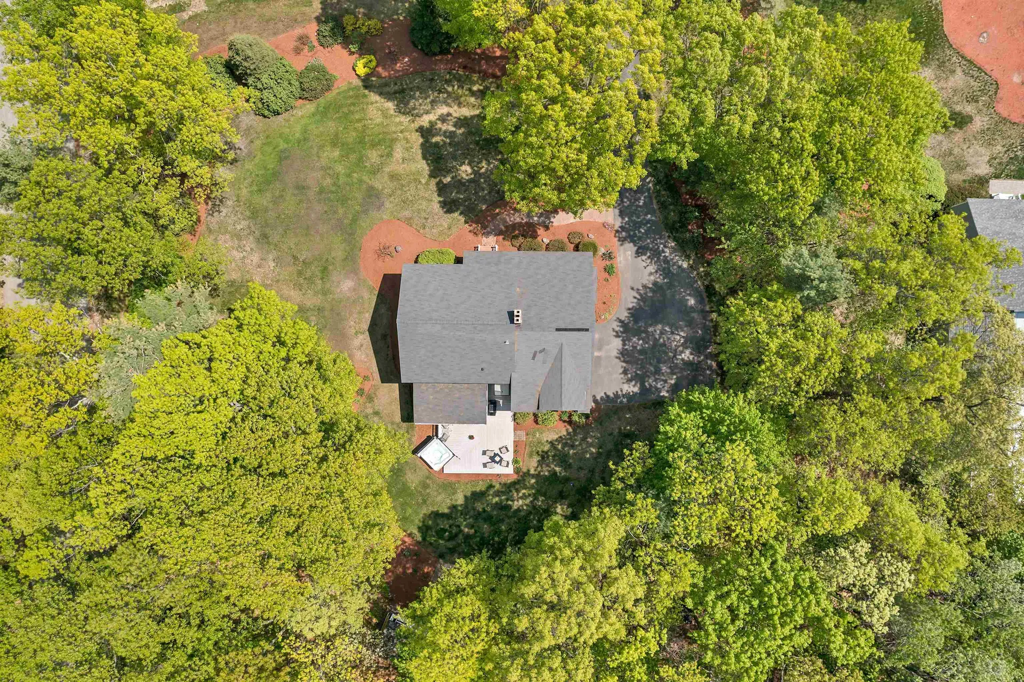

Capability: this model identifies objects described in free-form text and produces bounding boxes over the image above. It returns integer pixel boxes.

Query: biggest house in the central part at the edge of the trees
[395,251,597,426]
